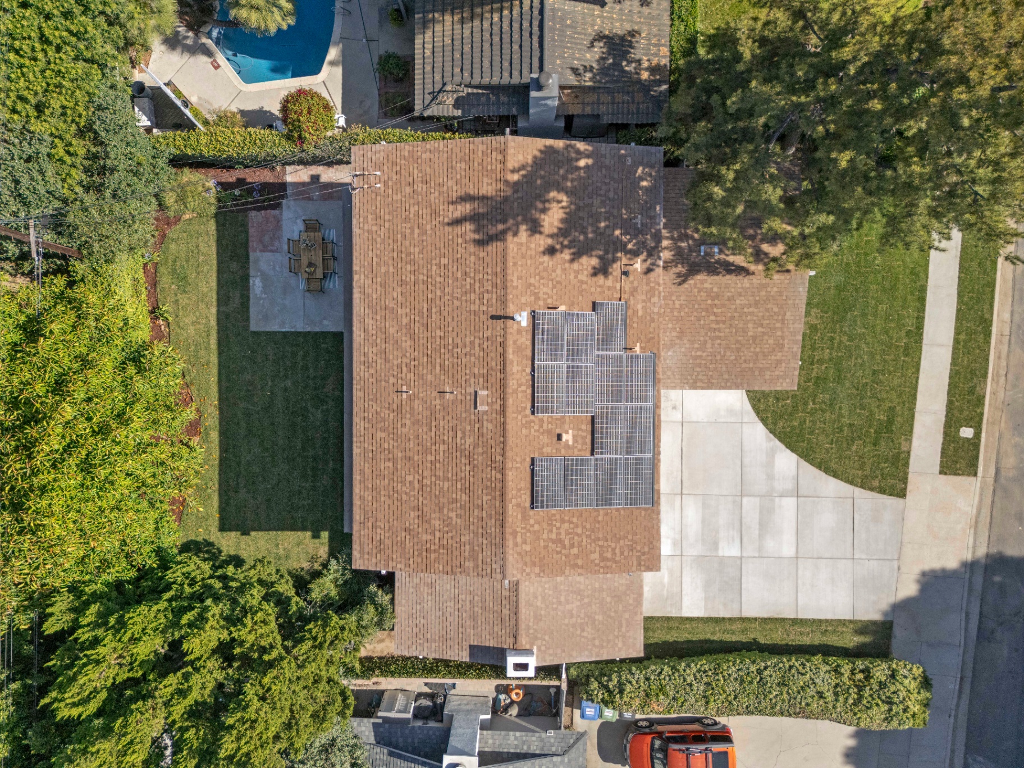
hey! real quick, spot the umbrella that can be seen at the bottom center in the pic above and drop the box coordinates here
[423,683,456,697]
